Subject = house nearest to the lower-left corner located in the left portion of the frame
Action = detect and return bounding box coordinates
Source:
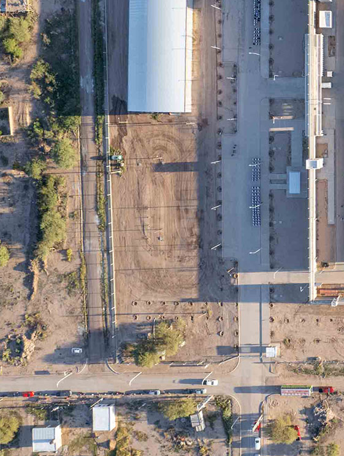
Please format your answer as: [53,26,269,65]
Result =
[32,422,61,451]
